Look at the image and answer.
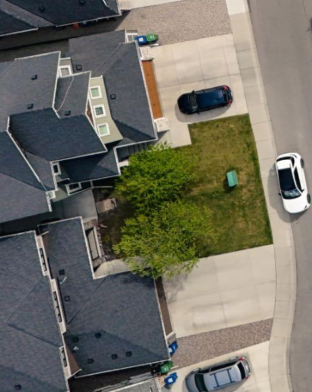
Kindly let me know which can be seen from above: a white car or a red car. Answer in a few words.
white car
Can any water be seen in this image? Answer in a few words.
No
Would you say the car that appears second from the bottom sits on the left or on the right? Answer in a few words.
right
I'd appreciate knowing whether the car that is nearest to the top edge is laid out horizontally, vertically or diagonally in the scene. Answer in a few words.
horizontally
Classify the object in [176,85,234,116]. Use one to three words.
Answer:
car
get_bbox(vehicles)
[276,150,312,215]
[186,356,255,392]
[176,85,234,116]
